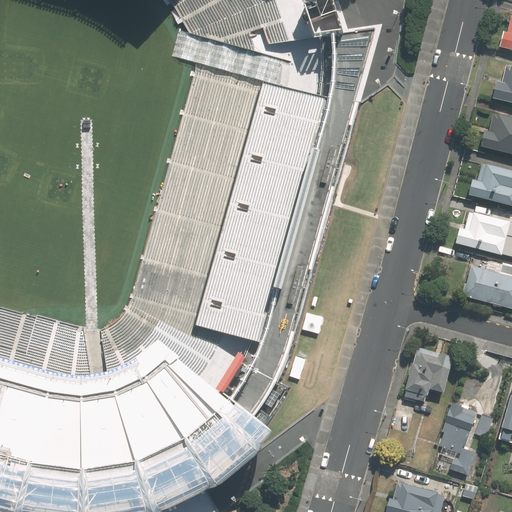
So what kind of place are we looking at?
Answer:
sports ground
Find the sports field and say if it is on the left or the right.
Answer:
left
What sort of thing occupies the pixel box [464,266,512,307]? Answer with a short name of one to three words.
house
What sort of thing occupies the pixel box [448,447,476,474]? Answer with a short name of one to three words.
house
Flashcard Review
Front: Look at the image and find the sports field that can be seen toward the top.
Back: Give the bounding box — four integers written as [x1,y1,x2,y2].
[0,0,195,332]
